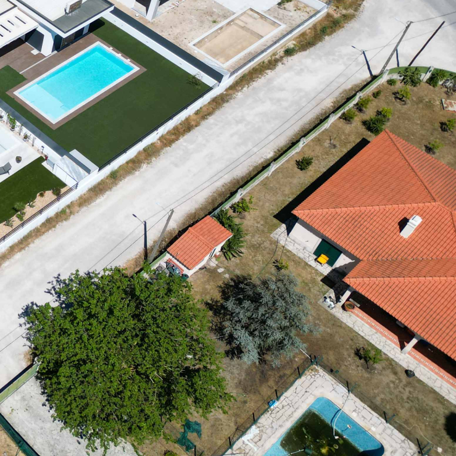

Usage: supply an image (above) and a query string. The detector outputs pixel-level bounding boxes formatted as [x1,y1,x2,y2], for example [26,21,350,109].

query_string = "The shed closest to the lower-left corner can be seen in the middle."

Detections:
[168,209,241,279]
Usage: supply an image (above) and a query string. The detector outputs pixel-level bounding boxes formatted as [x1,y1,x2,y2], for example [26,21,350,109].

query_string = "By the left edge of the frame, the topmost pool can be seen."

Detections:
[14,41,139,124]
